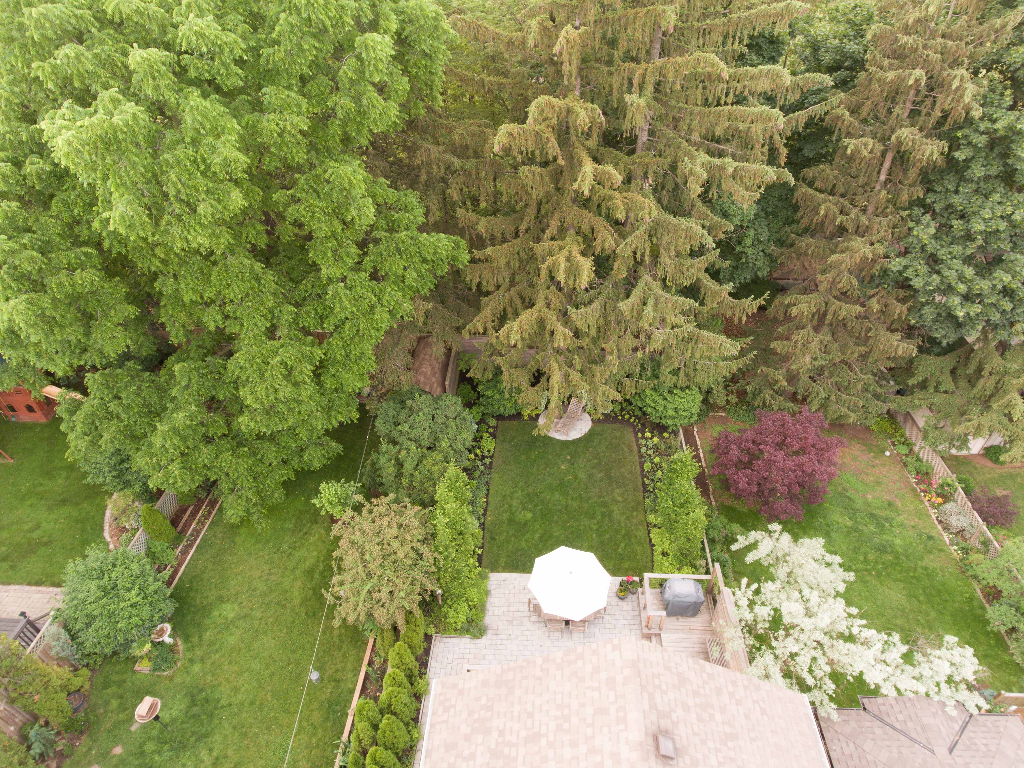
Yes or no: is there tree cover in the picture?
Yes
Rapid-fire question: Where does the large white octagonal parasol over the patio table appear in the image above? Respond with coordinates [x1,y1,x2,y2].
[524,546,612,625]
